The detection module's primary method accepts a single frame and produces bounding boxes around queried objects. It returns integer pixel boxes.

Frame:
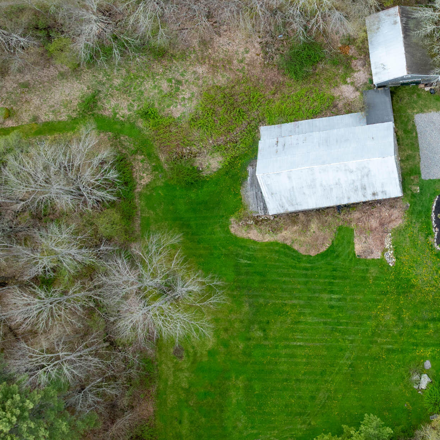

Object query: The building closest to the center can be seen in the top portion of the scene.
[256,113,402,214]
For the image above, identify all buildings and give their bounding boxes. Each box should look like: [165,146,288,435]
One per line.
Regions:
[365,5,440,88]
[256,113,402,214]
